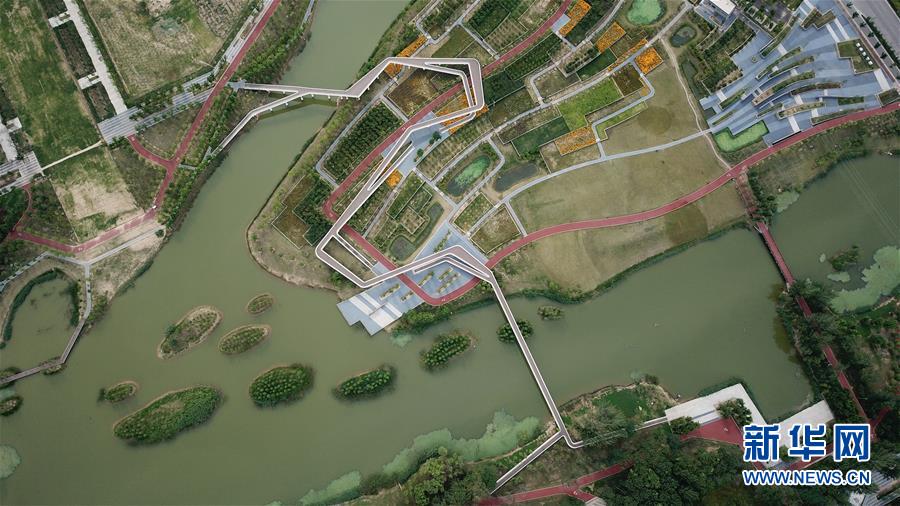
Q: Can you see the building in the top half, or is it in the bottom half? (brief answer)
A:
top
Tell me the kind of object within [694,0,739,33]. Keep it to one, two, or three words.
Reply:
building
